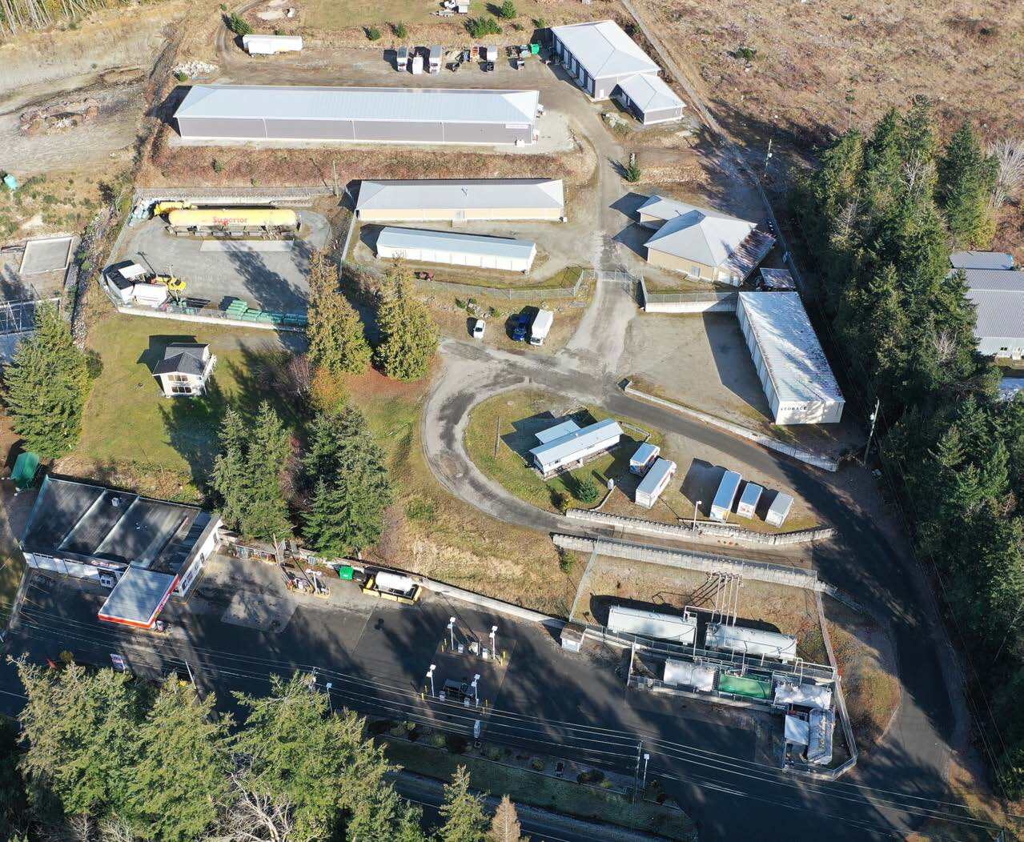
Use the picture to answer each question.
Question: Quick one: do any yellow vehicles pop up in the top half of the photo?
Yes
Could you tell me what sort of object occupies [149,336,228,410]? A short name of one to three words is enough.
house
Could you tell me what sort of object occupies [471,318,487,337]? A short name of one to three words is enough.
car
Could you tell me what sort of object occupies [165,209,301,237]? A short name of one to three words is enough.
storage tank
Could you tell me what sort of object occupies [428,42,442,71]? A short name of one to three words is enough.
vehicle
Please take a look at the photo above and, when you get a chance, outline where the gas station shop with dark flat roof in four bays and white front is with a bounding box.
[22,474,226,607]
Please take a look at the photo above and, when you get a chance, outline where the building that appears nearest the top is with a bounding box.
[549,18,665,101]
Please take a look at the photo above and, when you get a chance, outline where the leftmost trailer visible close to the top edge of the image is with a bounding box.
[244,33,299,55]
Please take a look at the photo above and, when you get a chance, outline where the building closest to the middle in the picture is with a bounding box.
[525,414,632,486]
